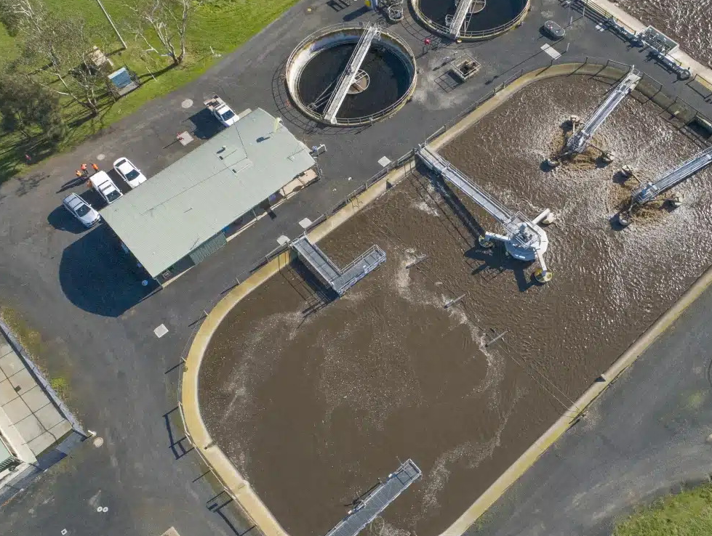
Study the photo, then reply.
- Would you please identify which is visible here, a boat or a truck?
truck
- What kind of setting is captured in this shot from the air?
industrial area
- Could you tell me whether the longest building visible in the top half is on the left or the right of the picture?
left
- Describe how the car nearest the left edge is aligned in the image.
diagonally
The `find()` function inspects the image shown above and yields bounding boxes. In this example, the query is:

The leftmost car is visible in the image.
[61,193,100,229]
